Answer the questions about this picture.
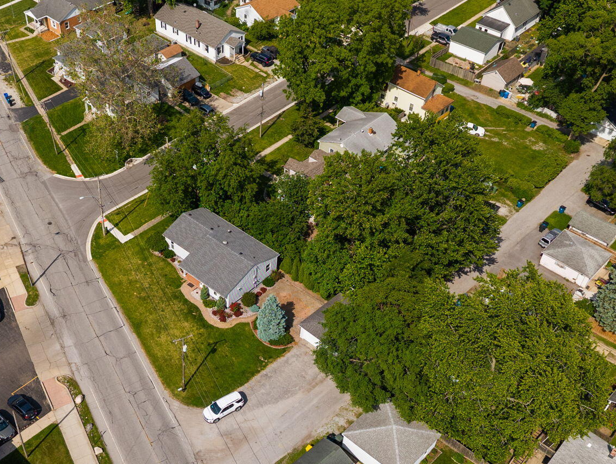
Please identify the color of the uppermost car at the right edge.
black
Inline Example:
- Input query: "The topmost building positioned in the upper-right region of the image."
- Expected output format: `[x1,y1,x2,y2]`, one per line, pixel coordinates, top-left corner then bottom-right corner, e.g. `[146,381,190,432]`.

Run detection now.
[475,0,534,42]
